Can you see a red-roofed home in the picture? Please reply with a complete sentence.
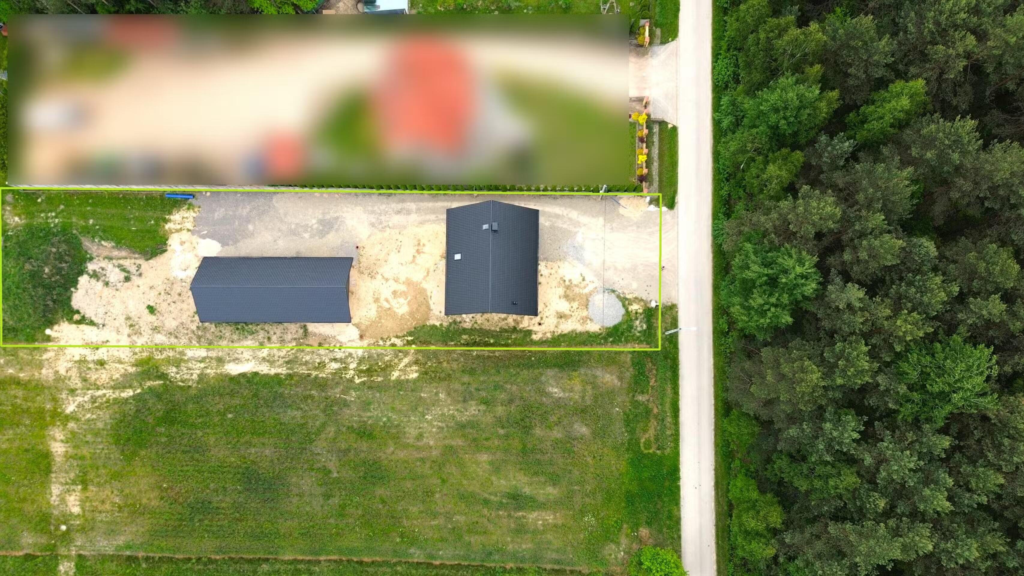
Yes, there is a red-roofed home in the image.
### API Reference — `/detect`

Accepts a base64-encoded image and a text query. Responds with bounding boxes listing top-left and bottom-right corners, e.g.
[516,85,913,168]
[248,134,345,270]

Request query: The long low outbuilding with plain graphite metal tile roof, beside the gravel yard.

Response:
[189,256,356,324]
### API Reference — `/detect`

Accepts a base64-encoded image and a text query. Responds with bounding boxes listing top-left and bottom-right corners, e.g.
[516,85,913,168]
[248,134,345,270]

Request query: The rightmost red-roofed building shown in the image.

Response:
[378,34,475,156]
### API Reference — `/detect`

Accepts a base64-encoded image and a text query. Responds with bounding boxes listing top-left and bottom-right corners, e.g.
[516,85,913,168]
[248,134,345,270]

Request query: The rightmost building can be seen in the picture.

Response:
[444,200,540,317]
